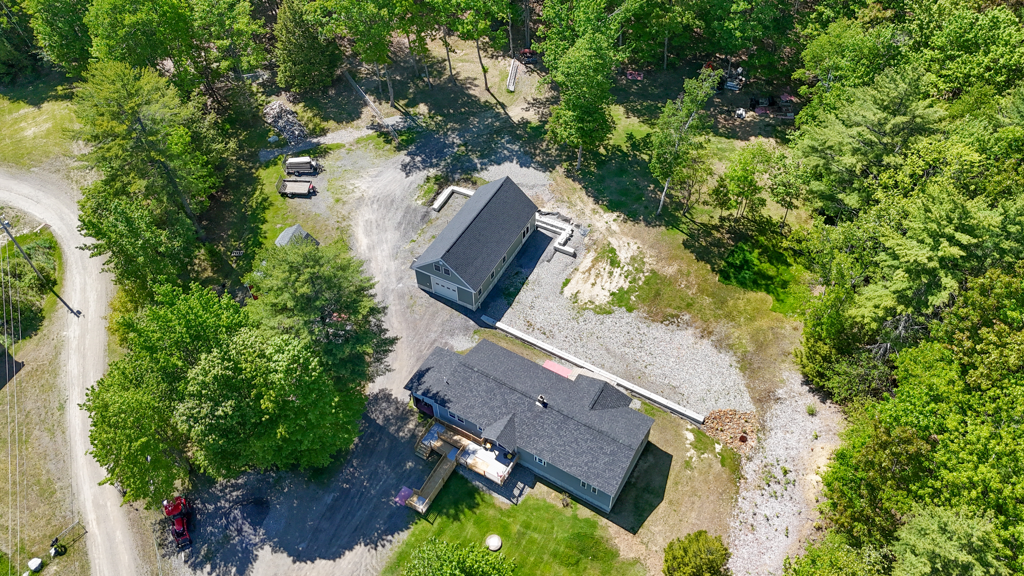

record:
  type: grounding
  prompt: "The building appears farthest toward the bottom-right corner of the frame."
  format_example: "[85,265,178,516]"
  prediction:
[402,339,655,513]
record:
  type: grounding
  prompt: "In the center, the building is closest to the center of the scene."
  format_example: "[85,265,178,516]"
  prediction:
[411,175,539,311]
